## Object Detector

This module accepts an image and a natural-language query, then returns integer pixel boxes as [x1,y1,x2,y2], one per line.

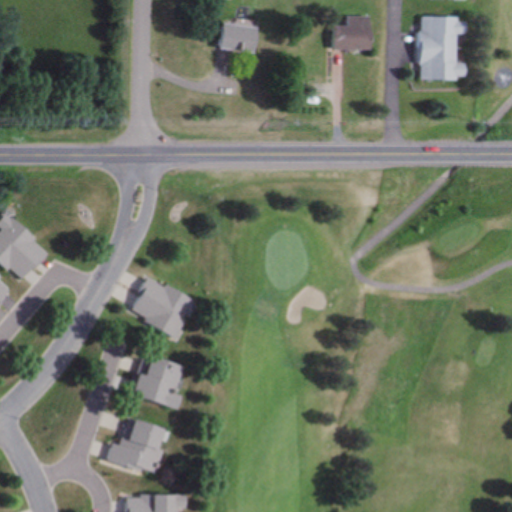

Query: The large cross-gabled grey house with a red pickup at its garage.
[0,214,48,278]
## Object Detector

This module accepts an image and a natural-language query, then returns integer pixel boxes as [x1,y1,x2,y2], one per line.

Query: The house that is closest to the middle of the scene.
[132,274,192,342]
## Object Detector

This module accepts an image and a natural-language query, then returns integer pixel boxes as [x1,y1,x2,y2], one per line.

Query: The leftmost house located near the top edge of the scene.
[220,6,258,54]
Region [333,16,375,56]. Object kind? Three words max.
house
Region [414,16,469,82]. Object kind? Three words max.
house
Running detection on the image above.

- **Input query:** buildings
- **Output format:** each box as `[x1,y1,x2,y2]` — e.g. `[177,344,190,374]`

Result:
[107,420,170,473]
[333,16,375,56]
[220,6,258,54]
[137,360,182,409]
[414,16,469,82]
[154,494,187,512]
[0,214,48,278]
[132,274,192,342]
[0,274,10,302]
[127,494,151,512]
